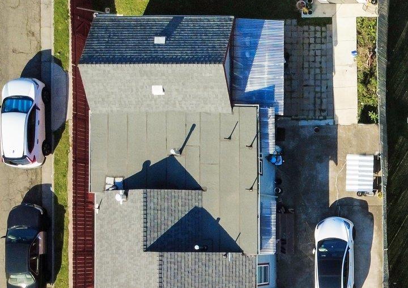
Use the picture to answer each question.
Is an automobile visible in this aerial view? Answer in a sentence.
Yes, an automobile appears in the view.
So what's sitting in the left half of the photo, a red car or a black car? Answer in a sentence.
Visible in the left half of the photo is a black car.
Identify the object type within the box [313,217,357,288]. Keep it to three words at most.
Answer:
car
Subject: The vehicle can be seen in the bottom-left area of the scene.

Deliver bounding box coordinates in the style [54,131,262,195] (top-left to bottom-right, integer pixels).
[6,204,52,288]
